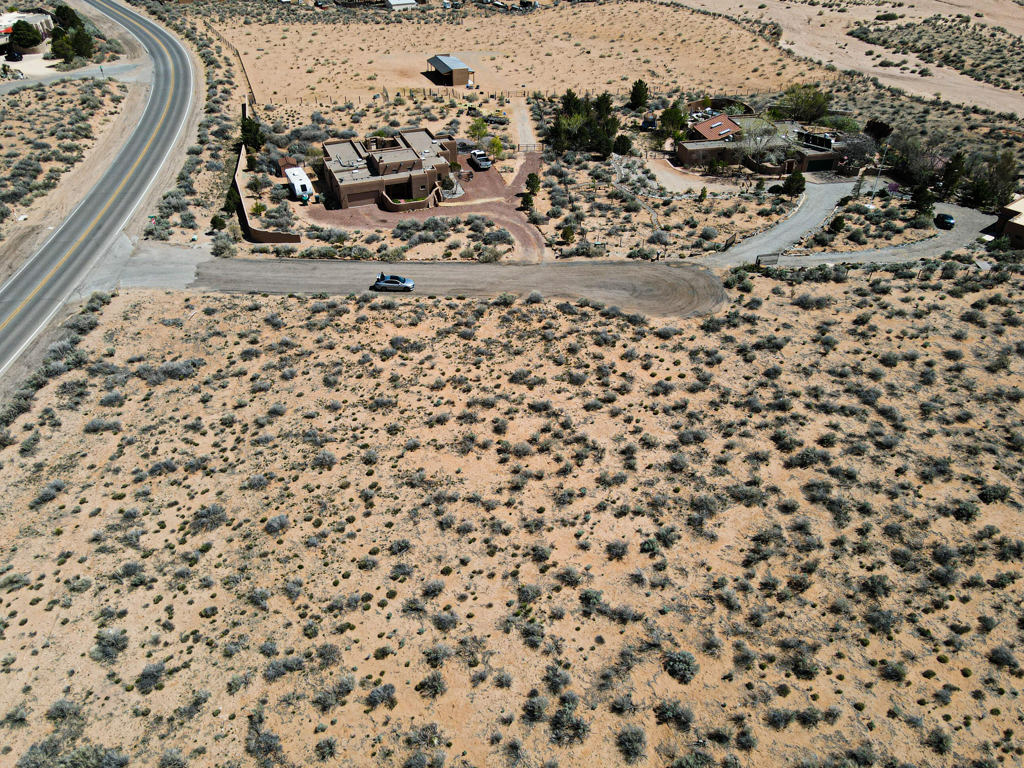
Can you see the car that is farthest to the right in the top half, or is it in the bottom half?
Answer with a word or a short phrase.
top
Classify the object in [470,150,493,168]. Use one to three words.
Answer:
vehicle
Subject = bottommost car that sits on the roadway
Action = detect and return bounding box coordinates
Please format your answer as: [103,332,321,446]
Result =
[375,273,415,292]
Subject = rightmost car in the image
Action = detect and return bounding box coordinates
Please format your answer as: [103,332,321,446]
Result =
[935,207,959,230]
